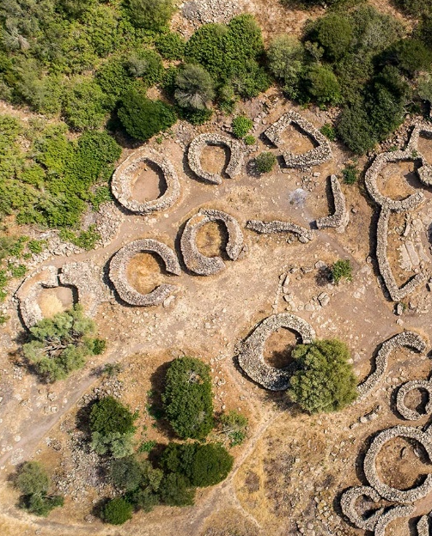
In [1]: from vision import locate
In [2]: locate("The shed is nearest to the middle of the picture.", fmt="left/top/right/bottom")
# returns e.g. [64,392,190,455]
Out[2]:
[182,207,247,276]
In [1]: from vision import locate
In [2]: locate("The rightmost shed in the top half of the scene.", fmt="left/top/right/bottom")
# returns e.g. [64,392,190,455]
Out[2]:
[364,151,425,207]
